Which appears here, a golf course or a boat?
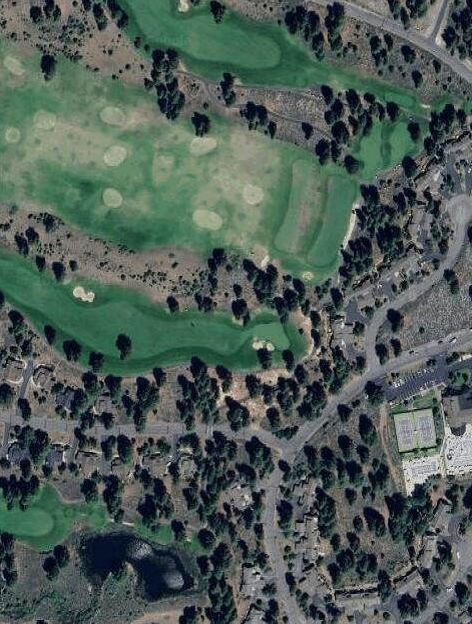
golf course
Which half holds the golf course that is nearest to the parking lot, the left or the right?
left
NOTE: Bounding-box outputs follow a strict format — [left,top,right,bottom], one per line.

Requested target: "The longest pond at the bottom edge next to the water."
[78,531,193,602]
